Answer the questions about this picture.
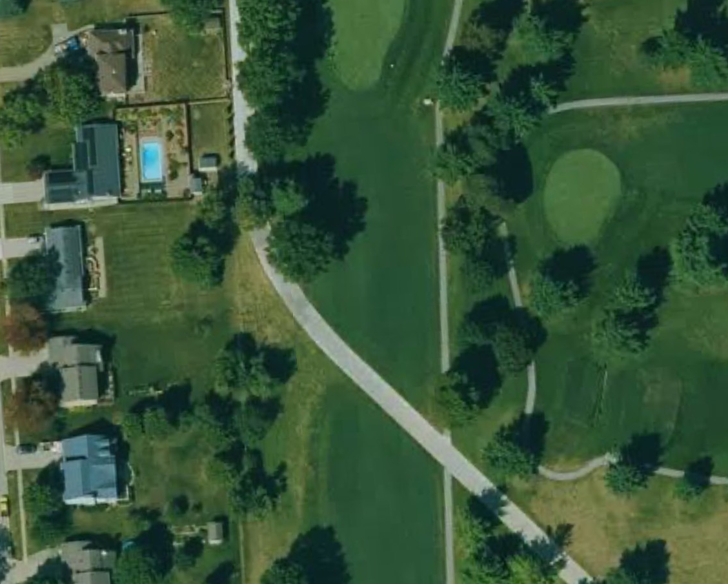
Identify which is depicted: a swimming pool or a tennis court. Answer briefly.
swimming pool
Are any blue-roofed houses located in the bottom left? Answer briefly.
Yes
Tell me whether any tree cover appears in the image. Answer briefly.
Yes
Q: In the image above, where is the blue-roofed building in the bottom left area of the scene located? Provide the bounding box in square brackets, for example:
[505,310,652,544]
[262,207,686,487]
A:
[62,434,131,504]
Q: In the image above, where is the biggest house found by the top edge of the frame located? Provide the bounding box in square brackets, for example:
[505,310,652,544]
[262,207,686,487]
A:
[91,28,135,101]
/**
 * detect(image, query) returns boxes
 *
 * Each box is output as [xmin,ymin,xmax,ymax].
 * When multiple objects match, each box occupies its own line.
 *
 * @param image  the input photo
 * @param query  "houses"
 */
[62,434,131,504]
[49,335,114,407]
[60,539,116,584]
[46,224,85,313]
[91,28,135,101]
[45,121,121,208]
